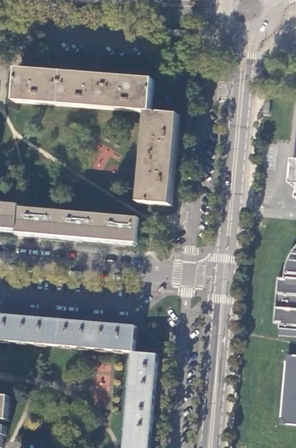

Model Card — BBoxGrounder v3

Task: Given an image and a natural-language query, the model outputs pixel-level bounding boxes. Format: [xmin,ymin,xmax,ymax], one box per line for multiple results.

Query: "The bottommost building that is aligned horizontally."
[0,314,140,356]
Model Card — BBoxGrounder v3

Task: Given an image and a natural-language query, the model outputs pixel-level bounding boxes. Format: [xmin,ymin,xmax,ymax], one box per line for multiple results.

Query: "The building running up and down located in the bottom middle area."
[123,352,159,448]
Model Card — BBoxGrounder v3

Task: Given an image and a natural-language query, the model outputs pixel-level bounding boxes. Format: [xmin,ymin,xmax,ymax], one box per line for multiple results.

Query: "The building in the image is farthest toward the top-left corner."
[9,66,154,112]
